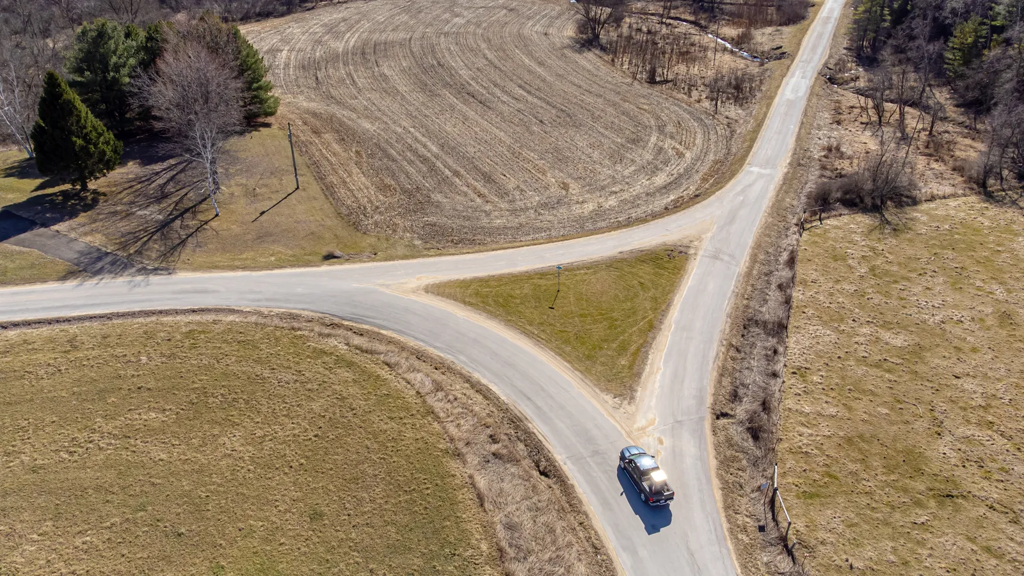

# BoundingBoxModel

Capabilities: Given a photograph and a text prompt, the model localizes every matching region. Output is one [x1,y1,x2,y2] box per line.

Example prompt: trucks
[620,445,673,503]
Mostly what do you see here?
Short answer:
farmland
